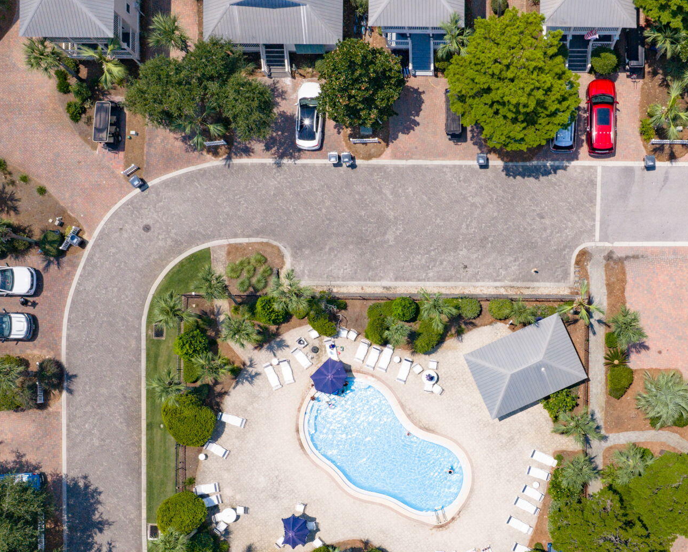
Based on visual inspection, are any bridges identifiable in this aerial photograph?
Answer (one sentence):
No, the scene contains no bridge.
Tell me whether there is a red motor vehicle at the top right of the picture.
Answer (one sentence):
Yes, a red motor vehicle appears at the top right of the picture.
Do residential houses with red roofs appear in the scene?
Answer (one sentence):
No, there's no residential house with a red roof here.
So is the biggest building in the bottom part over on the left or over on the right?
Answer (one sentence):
It is on the right.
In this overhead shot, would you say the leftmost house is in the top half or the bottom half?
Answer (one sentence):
The top half of the photo is where the leftmost house is.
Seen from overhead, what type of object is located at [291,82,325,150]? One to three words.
car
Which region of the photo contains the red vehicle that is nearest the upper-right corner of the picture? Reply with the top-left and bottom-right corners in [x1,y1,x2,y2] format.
[584,82,619,156]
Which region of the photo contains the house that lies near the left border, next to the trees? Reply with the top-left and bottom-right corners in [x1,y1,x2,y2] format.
[18,0,138,57]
